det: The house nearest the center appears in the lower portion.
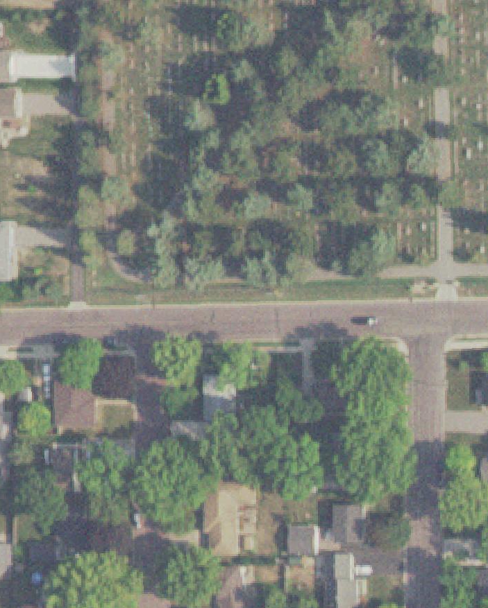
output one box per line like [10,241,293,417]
[203,376,242,419]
